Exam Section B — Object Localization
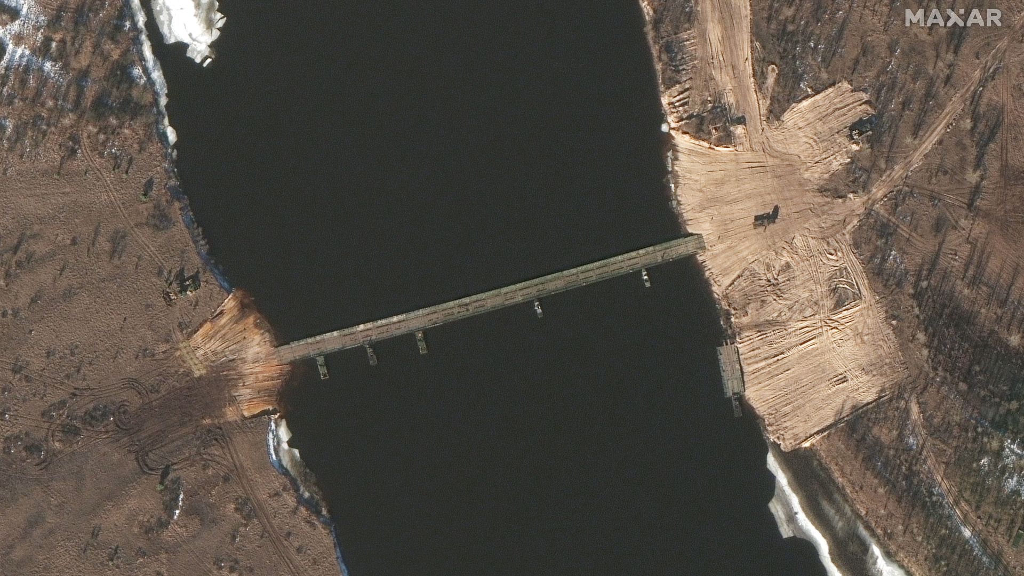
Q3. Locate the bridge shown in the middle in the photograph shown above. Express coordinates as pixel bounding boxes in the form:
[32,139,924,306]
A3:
[276,234,709,364]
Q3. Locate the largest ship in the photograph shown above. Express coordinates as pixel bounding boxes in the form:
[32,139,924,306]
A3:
[717,340,745,397]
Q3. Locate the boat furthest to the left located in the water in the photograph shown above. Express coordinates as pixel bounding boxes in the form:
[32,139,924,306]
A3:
[316,356,328,380]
